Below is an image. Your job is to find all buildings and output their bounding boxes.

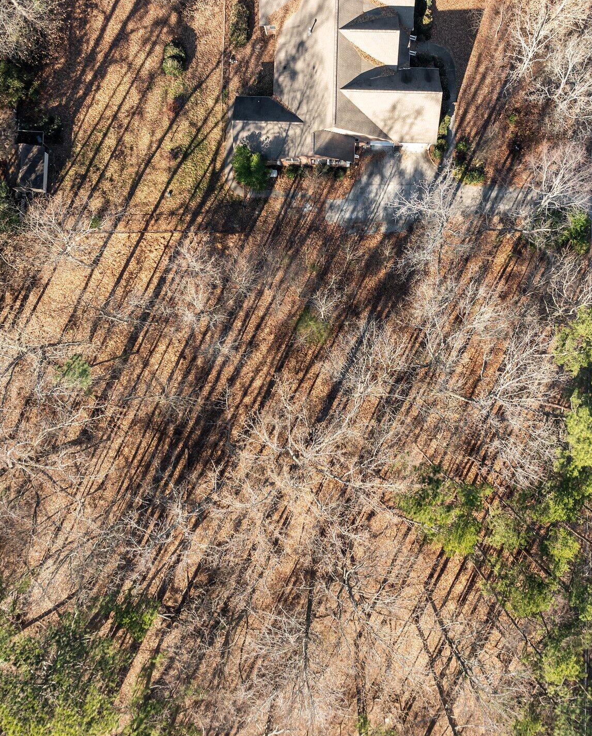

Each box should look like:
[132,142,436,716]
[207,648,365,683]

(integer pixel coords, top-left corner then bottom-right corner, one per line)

[231,0,442,170]
[17,122,61,225]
